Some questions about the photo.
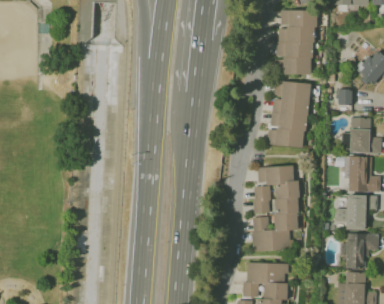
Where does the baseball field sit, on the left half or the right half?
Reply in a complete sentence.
You can find the baseball field on the left side of the picture.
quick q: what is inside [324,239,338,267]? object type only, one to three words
swimming pool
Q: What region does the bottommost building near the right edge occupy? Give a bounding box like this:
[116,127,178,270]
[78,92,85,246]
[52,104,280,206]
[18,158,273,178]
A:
[337,272,378,304]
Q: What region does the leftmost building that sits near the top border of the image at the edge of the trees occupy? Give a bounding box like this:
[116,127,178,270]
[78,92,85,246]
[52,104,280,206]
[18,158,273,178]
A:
[278,10,317,74]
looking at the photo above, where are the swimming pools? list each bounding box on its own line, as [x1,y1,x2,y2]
[324,239,338,267]
[331,118,348,136]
